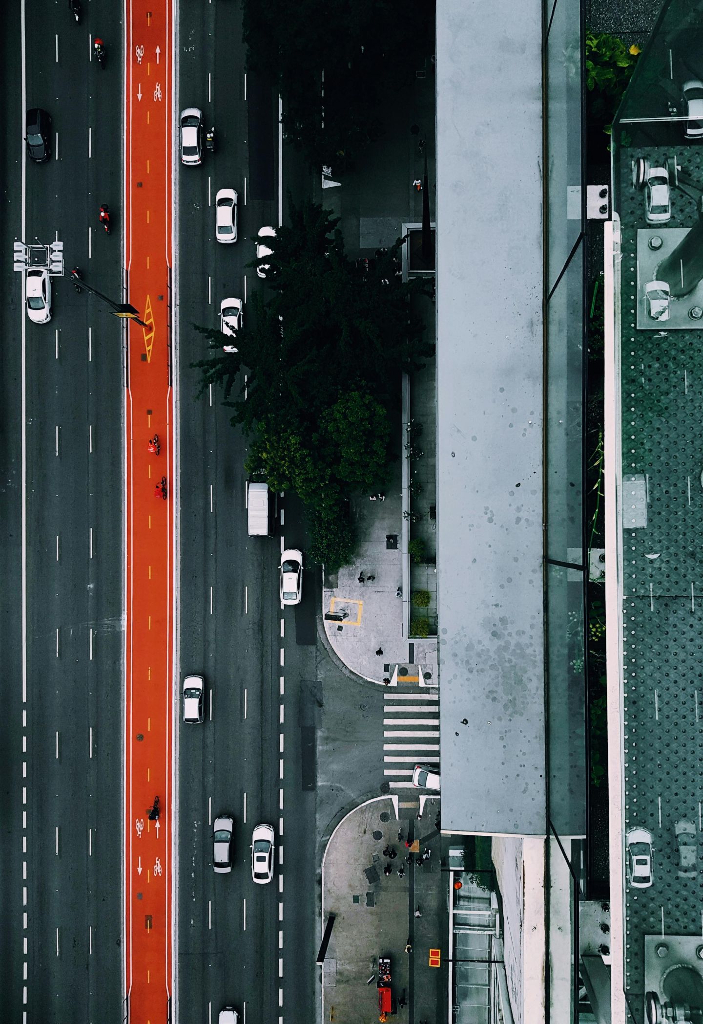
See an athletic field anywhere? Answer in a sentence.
No, there isn't any athletic field down there.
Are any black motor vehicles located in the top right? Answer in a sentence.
No, no black motor vehicle is visible in the top right.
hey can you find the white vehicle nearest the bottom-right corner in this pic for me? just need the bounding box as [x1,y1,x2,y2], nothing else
[412,763,441,793]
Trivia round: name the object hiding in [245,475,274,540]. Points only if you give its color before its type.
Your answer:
white van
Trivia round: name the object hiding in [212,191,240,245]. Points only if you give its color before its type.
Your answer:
white car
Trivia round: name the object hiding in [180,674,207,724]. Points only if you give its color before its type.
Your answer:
white car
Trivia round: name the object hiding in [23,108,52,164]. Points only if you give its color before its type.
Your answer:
black car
